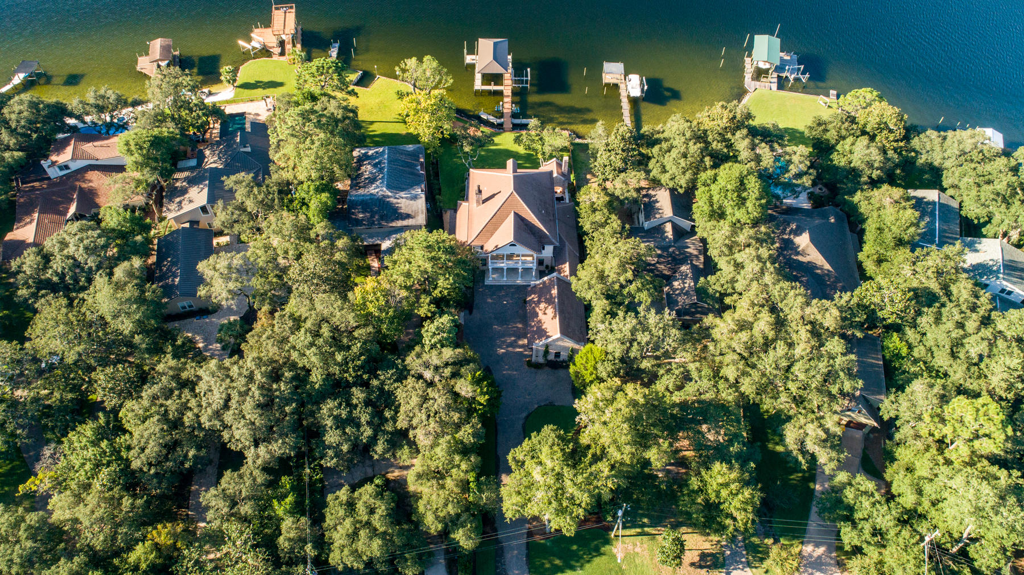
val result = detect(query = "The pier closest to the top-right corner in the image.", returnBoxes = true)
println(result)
[603,51,632,129]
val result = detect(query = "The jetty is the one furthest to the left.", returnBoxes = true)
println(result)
[238,0,303,64]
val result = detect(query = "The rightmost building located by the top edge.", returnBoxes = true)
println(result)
[743,20,799,92]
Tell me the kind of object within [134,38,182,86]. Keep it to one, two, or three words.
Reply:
building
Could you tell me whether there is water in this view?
Yes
